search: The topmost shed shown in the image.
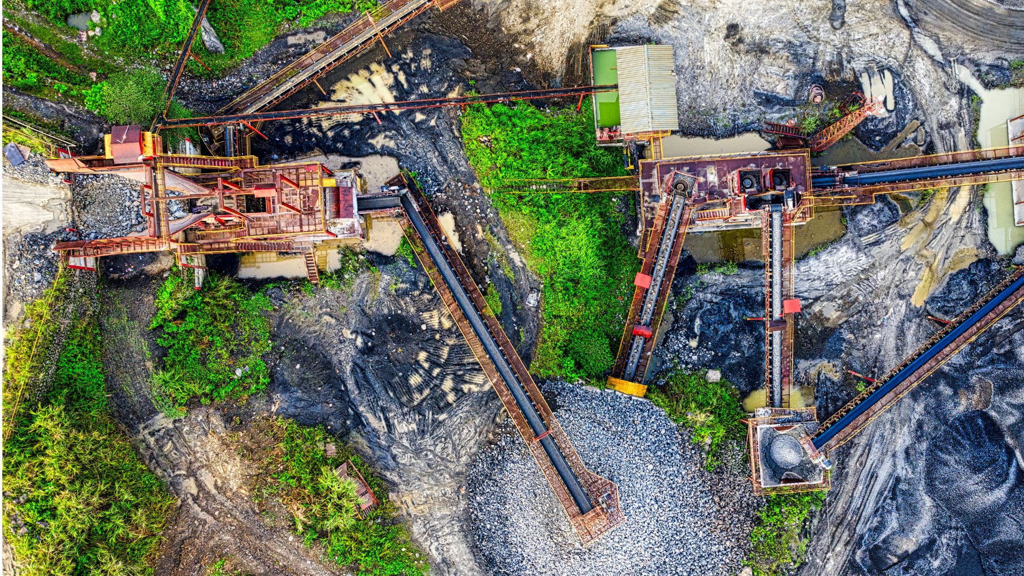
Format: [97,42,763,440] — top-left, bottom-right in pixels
[617,45,679,133]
